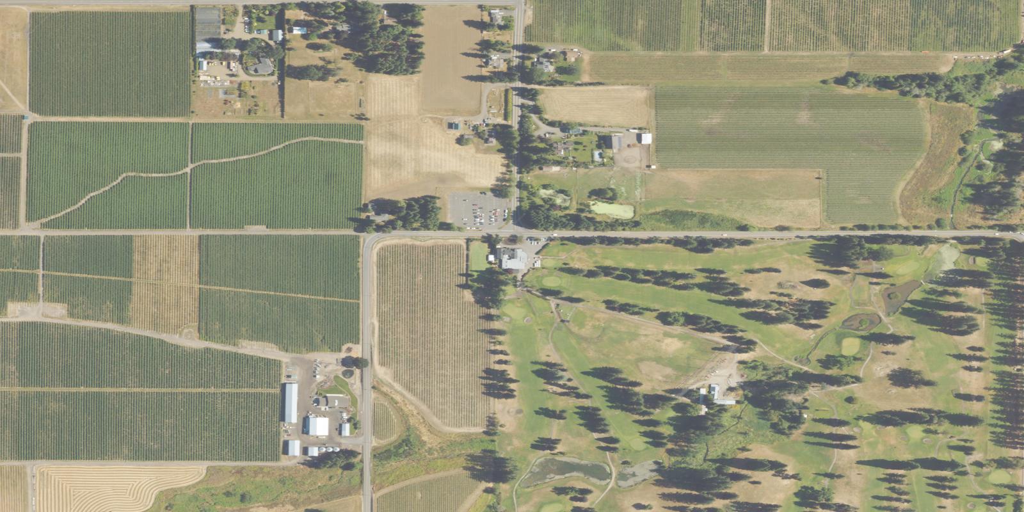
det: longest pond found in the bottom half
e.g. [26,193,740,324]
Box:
[519,455,610,488]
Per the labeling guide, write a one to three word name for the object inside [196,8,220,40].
house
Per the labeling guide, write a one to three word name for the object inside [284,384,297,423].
barn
